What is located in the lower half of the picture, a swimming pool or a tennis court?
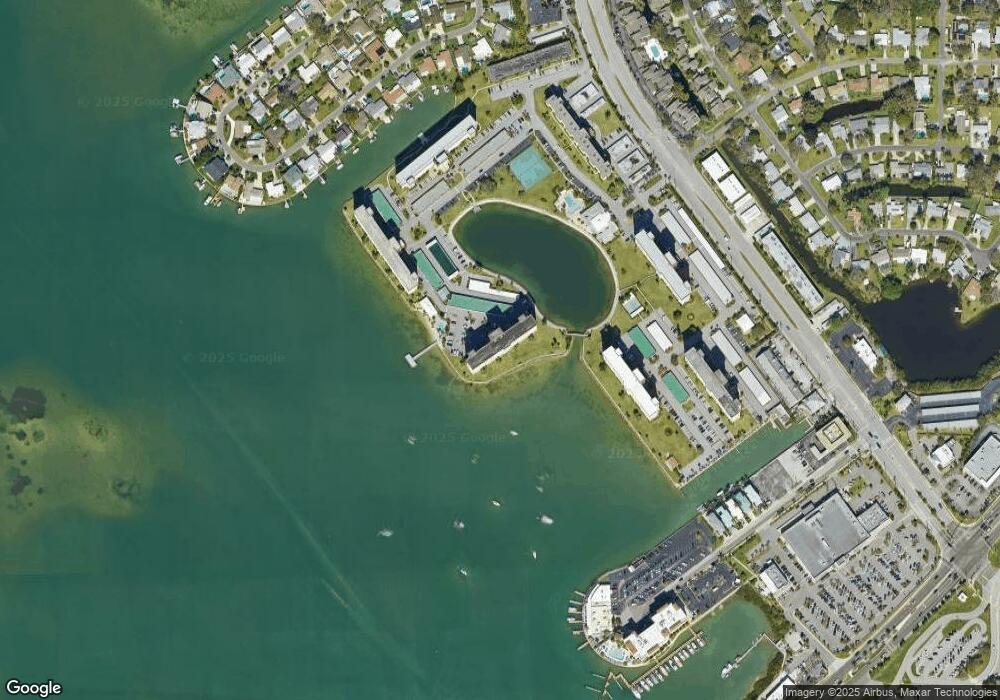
swimming pool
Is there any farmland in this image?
No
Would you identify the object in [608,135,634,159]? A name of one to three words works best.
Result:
building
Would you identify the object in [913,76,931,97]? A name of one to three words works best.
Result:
house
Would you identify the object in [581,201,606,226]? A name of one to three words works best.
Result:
building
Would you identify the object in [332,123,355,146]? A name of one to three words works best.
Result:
house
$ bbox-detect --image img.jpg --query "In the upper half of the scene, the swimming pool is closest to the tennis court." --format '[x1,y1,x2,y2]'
[555,189,585,214]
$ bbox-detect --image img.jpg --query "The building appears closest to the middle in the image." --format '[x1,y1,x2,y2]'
[467,312,538,376]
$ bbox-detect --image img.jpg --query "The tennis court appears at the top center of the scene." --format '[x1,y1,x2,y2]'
[509,144,553,190]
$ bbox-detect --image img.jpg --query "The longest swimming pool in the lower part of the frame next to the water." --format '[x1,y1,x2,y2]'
[589,638,627,663]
